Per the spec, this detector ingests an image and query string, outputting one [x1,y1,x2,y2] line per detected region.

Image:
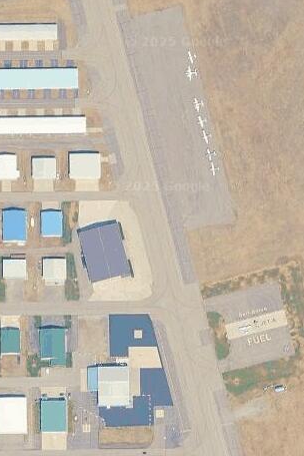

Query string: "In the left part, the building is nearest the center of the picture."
[77,222,132,284]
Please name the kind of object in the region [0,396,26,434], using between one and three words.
hangar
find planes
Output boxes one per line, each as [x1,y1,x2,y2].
[187,51,196,64]
[206,149,215,162]
[210,163,219,176]
[193,100,202,111]
[201,130,211,144]
[186,66,196,81]
[197,116,206,129]
[239,323,252,332]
